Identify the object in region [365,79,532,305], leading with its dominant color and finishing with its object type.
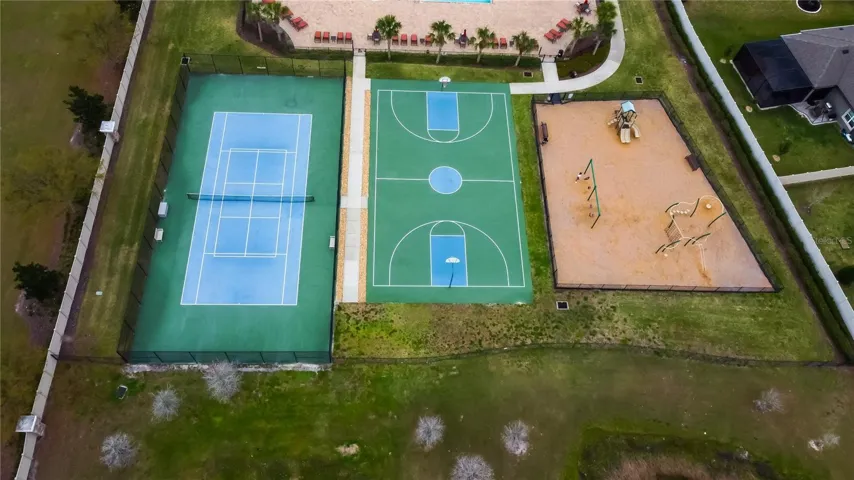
green basketball court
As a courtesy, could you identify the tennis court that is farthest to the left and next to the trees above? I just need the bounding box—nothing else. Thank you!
[128,76,343,363]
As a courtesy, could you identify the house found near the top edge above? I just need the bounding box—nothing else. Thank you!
[727,22,854,143]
